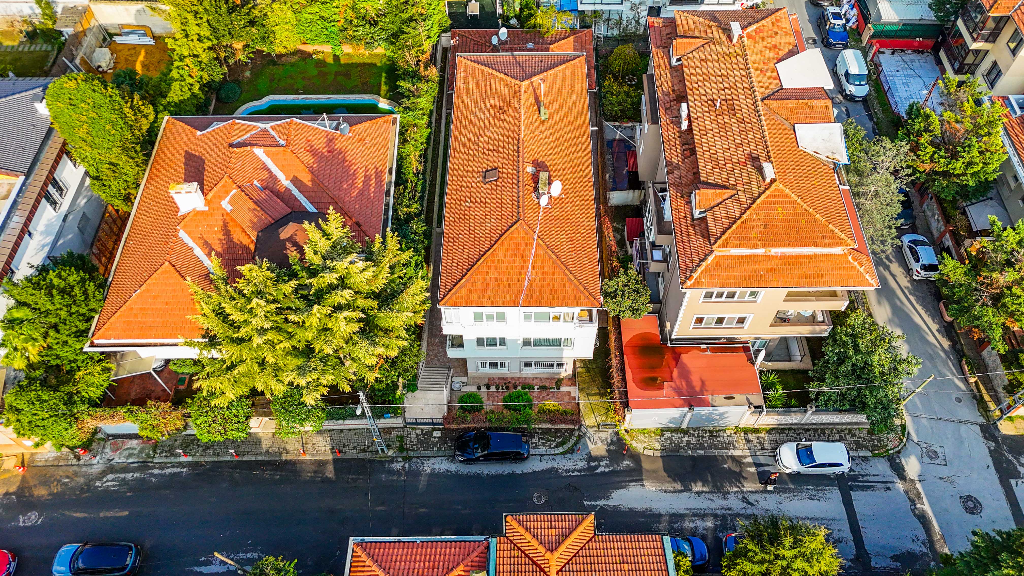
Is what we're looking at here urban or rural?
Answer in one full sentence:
The area shown here is urban.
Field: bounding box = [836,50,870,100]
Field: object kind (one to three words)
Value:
vehicle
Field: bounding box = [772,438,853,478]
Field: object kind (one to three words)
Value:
car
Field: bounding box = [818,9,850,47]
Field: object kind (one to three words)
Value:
car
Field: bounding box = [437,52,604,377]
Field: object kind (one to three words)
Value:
house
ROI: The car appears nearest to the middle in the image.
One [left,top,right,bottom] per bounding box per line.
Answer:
[454,427,531,467]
